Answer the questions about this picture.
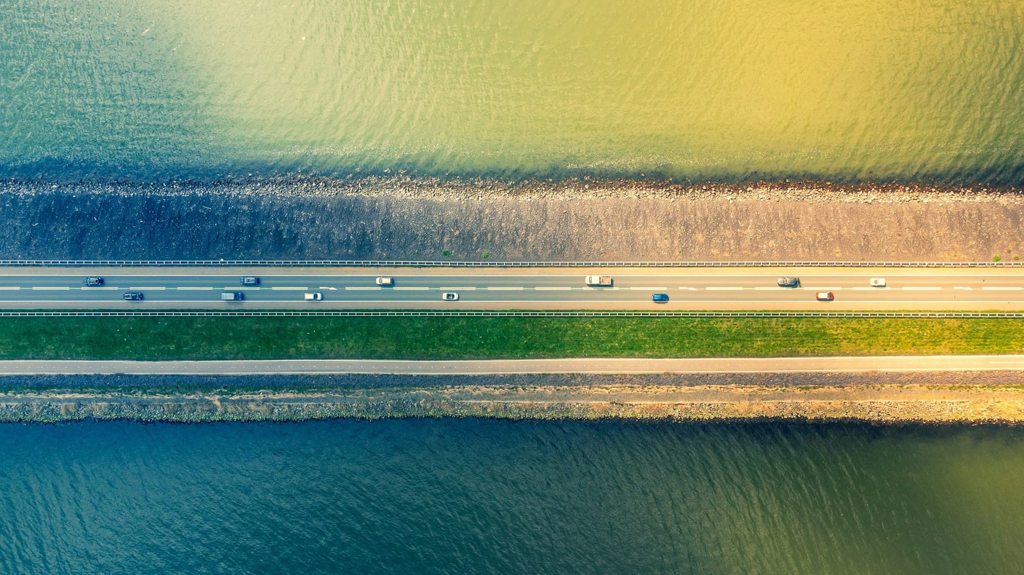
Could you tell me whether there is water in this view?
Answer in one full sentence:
Yes, the picture does contain water.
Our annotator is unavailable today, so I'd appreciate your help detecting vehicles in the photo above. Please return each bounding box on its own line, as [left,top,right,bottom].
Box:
[815,292,832,300]
[304,292,323,301]
[123,292,143,301]
[220,292,243,301]
[376,277,393,285]
[869,278,886,286]
[585,275,611,285]
[442,292,458,300]
[84,277,102,285]
[651,293,668,301]
[777,277,797,285]
[240,276,259,285]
